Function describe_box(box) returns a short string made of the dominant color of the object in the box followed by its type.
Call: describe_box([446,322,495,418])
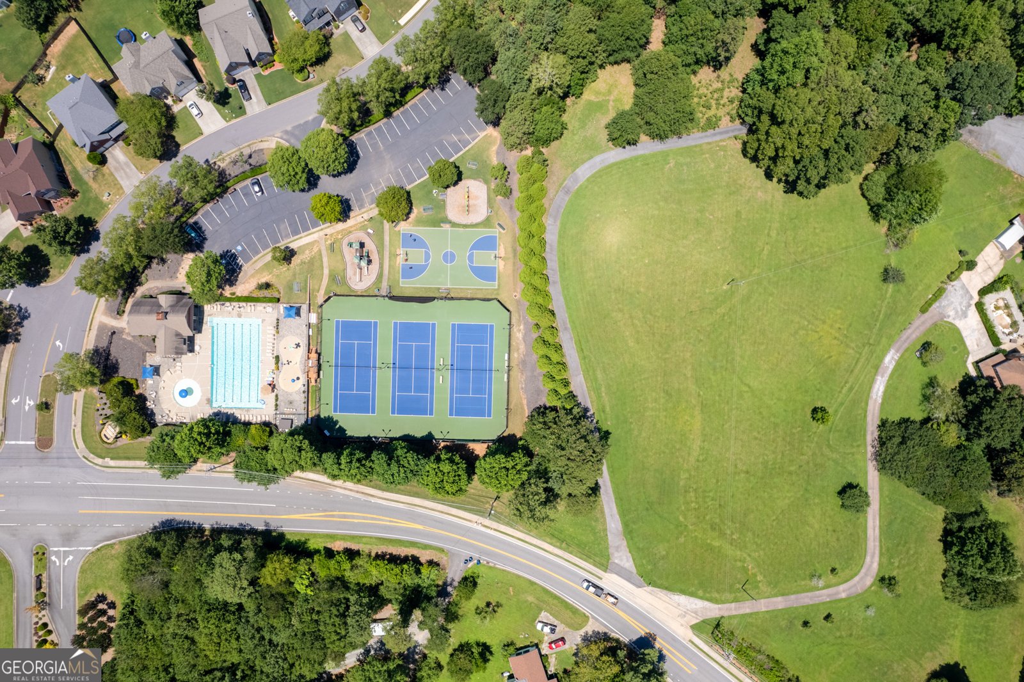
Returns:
blue tennis court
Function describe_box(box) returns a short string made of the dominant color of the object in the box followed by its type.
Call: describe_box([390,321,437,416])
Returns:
blue tennis court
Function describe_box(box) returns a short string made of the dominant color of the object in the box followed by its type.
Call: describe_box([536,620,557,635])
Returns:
white vehicle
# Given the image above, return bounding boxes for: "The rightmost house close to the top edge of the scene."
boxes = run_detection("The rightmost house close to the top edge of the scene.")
[287,0,361,34]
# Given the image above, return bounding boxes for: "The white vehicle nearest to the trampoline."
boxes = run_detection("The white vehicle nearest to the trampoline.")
[187,100,204,119]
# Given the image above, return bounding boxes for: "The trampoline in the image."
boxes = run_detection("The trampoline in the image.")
[117,28,136,46]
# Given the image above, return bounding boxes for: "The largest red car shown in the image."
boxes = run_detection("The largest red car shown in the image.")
[548,637,567,650]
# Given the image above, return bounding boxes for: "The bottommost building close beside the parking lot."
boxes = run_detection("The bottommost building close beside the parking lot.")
[123,294,207,355]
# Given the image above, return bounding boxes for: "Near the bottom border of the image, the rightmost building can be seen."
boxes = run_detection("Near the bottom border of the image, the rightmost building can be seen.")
[509,646,559,682]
